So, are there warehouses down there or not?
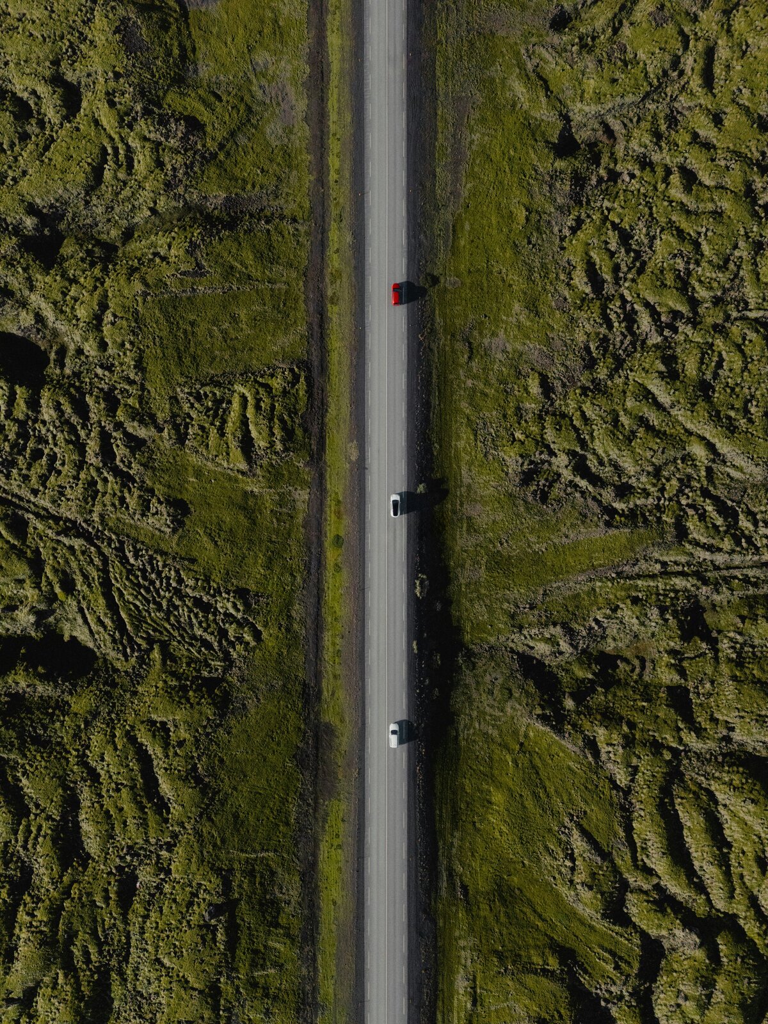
No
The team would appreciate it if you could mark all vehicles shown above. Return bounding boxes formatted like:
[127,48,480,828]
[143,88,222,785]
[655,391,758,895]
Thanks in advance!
[392,282,401,305]
[389,724,400,749]
[390,494,400,517]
